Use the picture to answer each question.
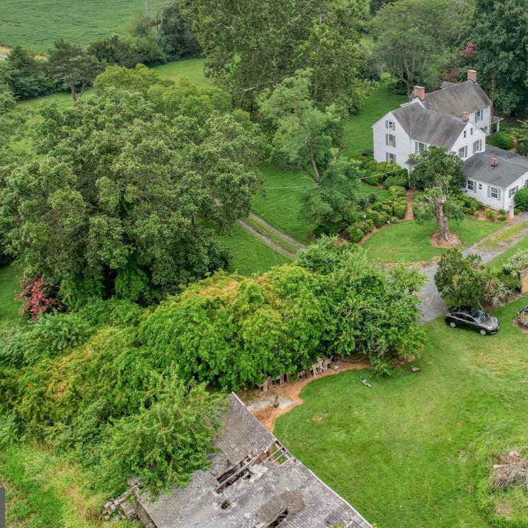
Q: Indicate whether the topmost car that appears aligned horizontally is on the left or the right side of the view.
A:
right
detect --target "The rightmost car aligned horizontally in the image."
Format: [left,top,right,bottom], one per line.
[442,306,499,336]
